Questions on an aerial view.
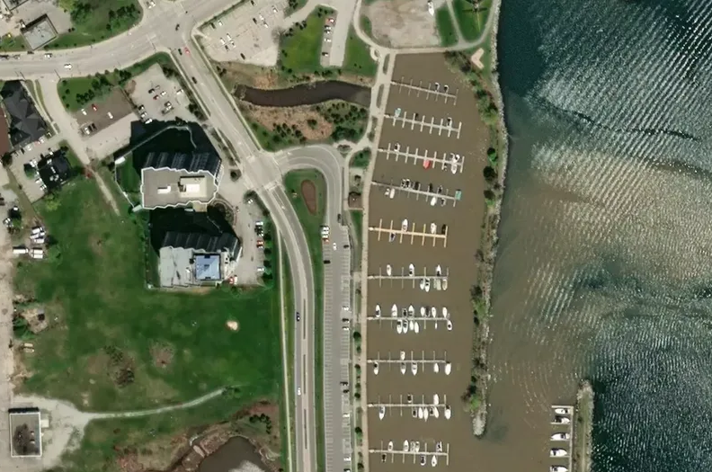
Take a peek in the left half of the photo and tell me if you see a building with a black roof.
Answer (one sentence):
Yes, there is a building with a black roof in the left half of the photo.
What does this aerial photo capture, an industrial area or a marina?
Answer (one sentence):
The picture captures a marina.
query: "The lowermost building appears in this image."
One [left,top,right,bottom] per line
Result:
[9,411,50,456]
